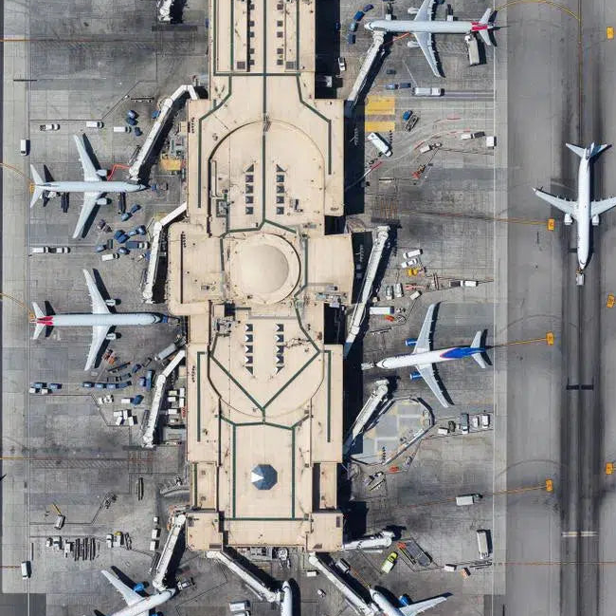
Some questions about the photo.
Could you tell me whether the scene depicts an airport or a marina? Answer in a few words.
airport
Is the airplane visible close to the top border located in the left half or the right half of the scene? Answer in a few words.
right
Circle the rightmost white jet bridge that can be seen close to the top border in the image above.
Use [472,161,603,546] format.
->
[345,29,385,109]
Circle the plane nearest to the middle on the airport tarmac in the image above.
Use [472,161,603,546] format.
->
[376,302,491,407]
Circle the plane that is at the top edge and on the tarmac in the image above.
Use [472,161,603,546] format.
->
[365,0,497,77]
